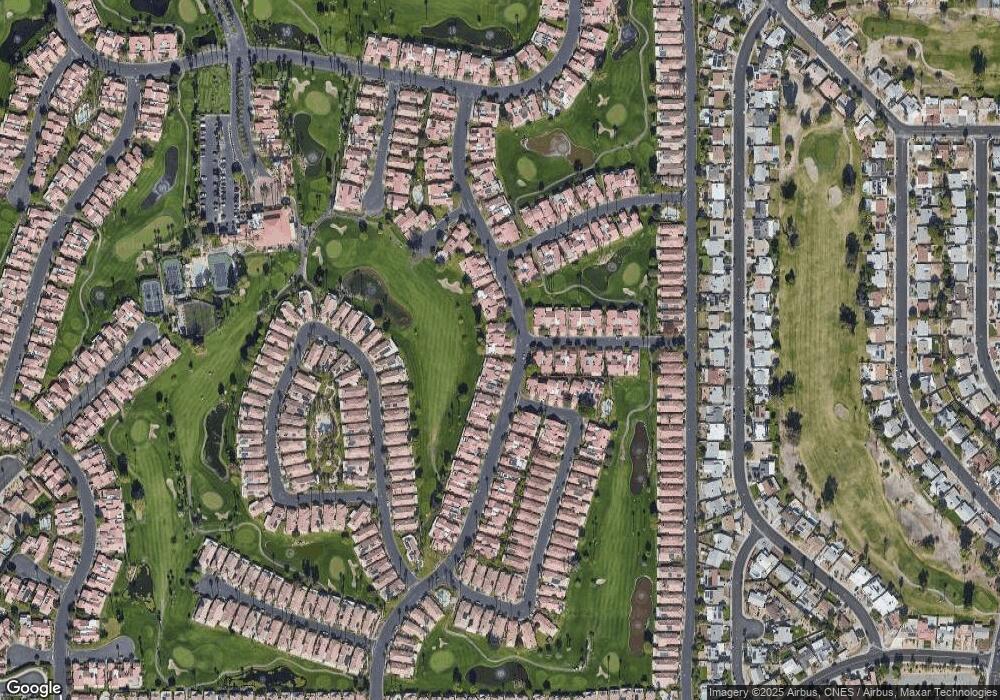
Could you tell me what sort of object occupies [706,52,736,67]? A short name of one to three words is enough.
house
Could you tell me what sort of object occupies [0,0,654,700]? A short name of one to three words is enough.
golf course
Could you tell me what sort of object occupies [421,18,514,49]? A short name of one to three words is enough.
pond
